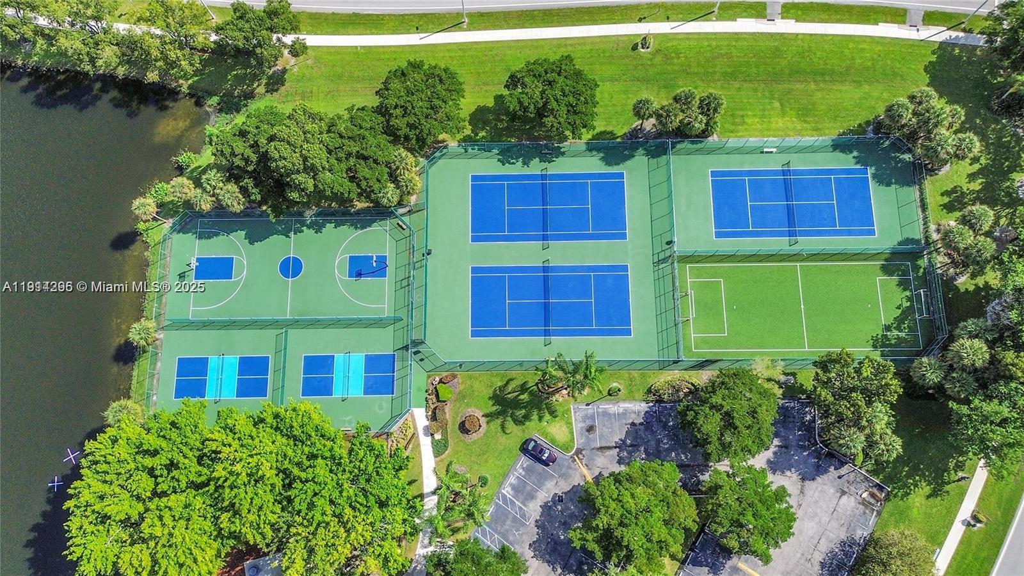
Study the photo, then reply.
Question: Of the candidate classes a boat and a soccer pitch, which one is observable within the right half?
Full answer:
The feature located within the right half is a soccer pitch.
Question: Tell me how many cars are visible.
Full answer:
I count 1 car.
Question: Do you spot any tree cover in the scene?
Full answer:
Yes, tree cover shows up in the scene.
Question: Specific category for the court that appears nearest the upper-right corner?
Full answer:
Looking closely, the court that appears nearest the upper-right corner is a tennis court.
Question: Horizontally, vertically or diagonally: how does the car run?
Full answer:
The car runs diagonally in the image.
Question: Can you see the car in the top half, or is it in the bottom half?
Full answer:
It is in the bottom half that the car appears.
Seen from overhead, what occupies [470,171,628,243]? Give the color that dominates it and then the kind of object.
blue tennis court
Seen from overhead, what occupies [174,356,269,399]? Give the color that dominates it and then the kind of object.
blue sports court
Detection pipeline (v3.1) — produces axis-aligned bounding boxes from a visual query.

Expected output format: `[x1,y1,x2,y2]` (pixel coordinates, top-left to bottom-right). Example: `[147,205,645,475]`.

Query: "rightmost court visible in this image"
[711,168,877,239]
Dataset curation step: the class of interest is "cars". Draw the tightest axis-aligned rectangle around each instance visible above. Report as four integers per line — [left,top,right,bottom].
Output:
[522,437,557,465]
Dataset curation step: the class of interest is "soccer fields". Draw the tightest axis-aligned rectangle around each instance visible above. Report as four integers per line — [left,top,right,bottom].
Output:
[678,254,935,360]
